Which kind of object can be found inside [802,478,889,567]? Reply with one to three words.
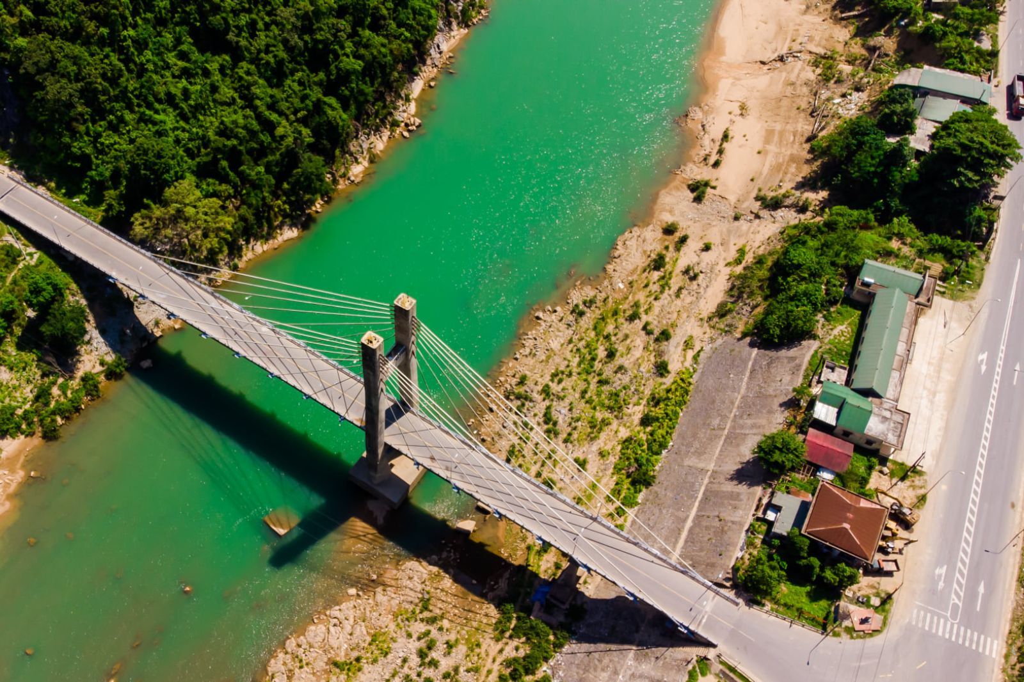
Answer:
house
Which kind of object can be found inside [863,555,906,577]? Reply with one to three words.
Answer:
truck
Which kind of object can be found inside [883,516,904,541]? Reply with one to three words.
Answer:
work vehicle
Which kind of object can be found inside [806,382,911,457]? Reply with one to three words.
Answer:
building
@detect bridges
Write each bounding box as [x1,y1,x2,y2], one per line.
[0,167,744,647]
